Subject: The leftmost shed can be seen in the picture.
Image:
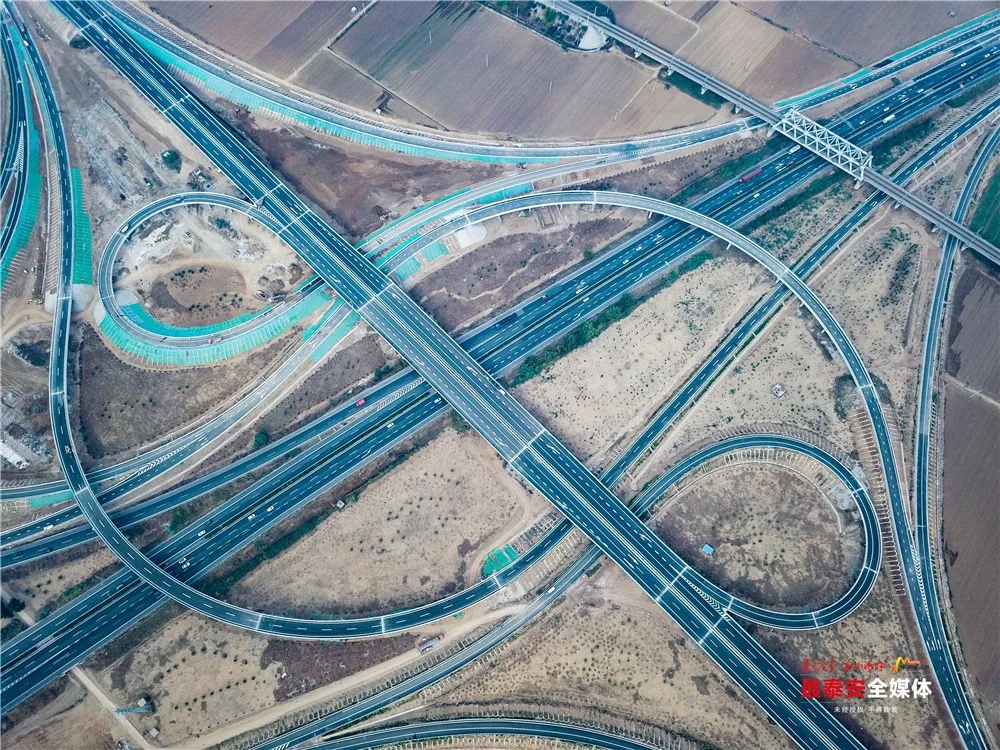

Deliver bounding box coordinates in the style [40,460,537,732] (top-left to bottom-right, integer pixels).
[0,437,29,472]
